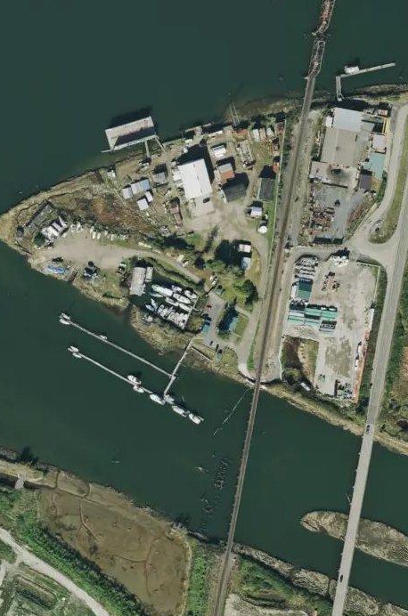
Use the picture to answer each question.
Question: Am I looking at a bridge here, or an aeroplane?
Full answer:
Of the two, only a bridge appears.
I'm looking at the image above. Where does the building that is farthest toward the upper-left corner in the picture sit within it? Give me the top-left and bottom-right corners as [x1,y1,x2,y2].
[104,117,159,151]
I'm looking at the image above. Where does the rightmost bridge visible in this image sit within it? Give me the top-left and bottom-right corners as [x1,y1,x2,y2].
[332,429,375,615]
